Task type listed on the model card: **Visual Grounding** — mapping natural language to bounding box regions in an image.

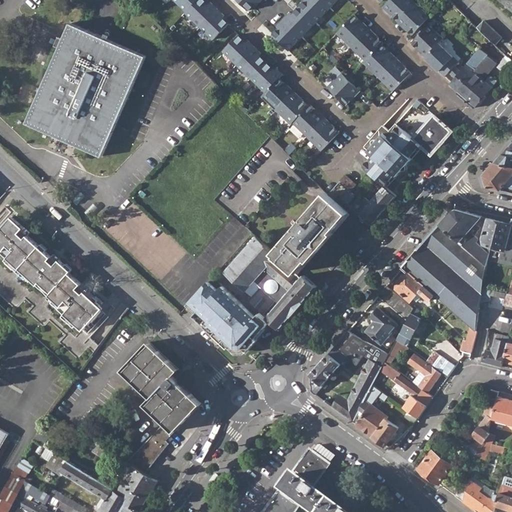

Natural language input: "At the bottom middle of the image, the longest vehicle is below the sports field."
[200,424,222,460]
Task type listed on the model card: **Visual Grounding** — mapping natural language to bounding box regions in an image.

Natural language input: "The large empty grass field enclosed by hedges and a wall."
[136,97,270,253]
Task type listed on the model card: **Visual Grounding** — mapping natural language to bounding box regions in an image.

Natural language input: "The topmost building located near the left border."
[24,25,147,158]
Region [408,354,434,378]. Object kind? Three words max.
house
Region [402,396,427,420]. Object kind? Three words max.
house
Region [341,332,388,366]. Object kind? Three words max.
building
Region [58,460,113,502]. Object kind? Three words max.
shed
